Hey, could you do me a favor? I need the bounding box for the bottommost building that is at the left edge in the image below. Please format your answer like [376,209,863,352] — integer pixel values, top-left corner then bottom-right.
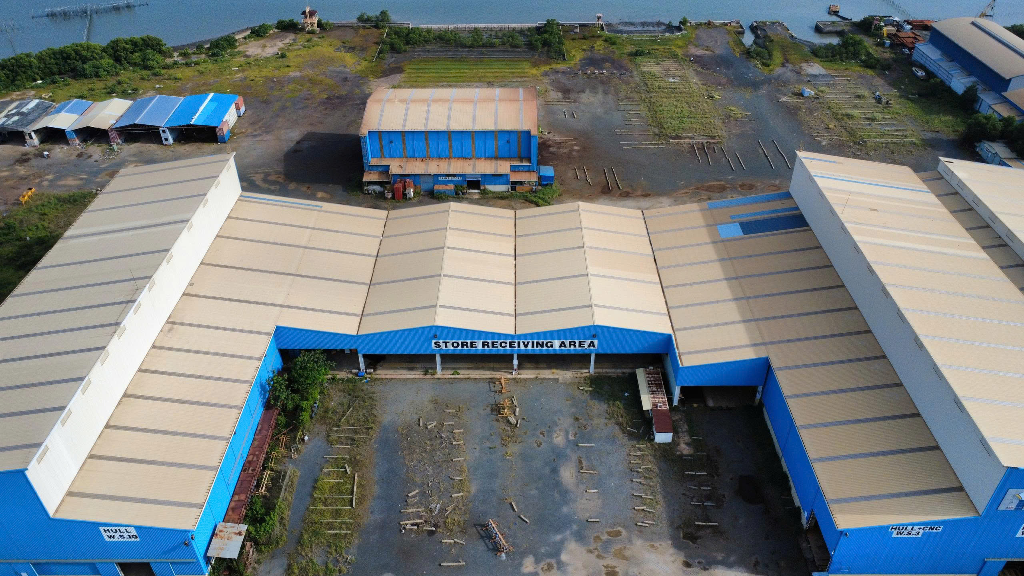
[0,152,325,576]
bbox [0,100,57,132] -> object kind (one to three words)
shed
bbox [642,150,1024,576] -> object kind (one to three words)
building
